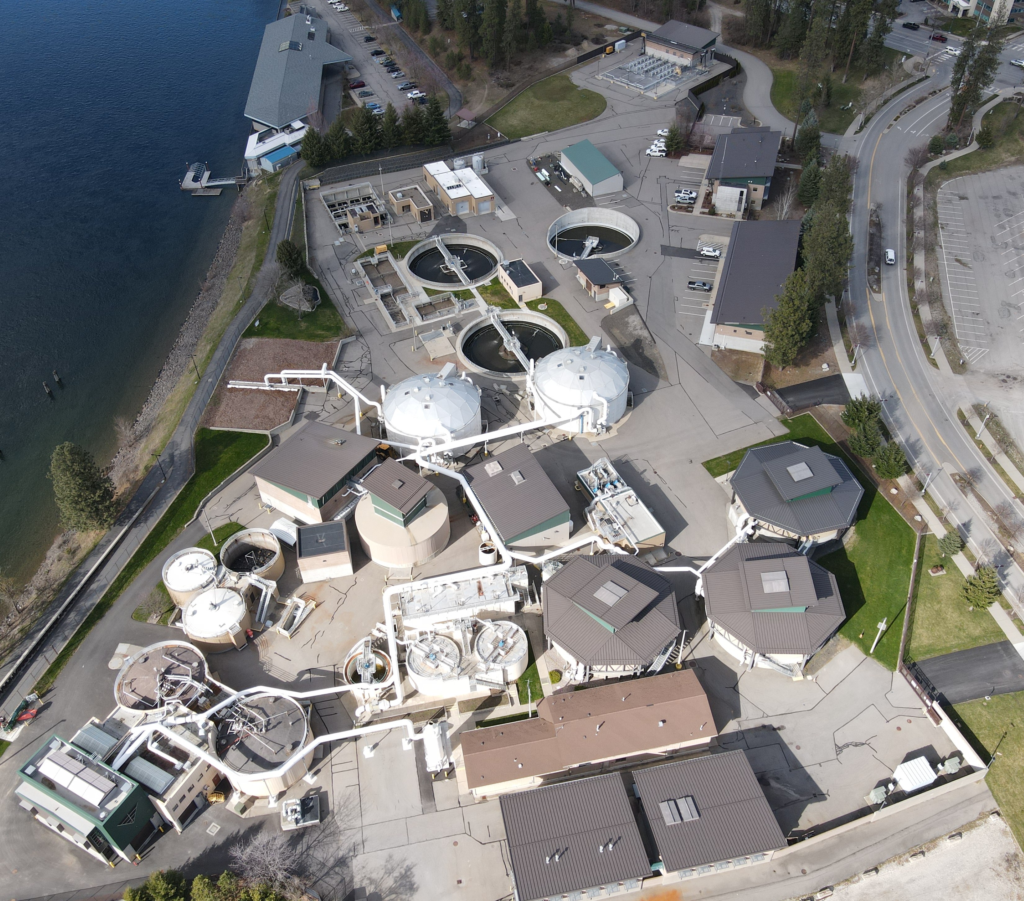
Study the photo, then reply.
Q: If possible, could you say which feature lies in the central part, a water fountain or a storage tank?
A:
storage tank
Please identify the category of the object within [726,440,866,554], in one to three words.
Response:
house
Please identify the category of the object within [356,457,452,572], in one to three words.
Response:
storage tank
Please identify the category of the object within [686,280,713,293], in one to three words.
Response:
vehicle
